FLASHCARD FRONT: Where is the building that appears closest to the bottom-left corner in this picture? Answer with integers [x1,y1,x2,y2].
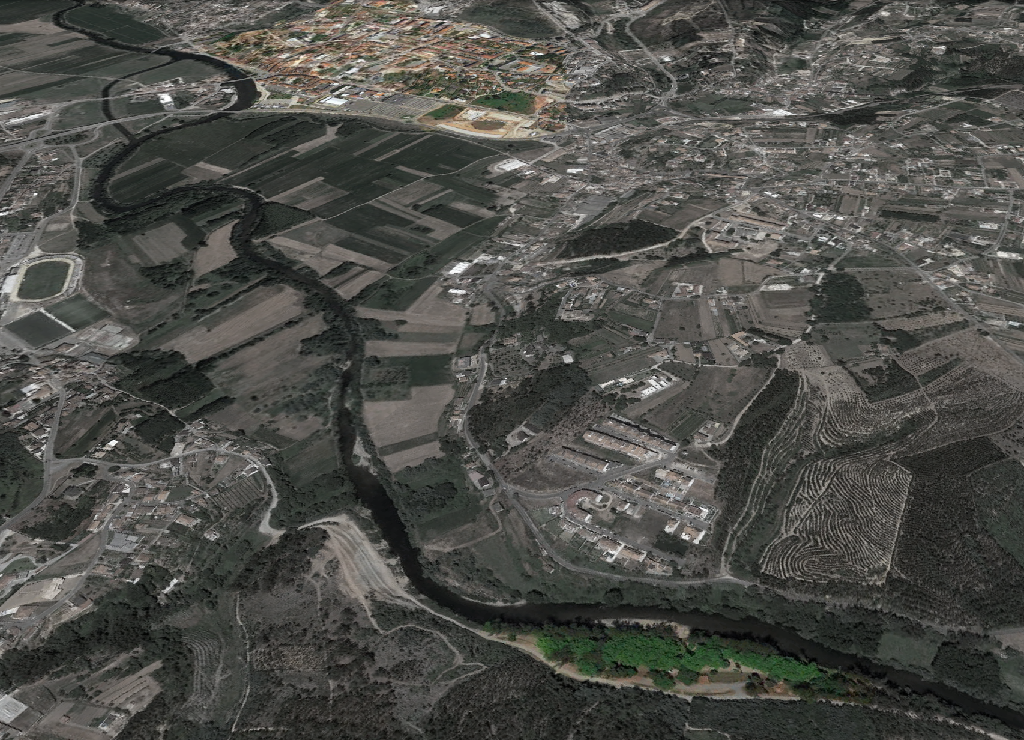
[0,688,28,726]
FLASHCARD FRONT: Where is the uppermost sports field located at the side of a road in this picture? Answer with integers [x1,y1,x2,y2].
[17,260,70,298]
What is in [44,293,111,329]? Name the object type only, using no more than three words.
sports field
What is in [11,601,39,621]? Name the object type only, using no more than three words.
house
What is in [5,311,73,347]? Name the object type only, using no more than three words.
sports field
